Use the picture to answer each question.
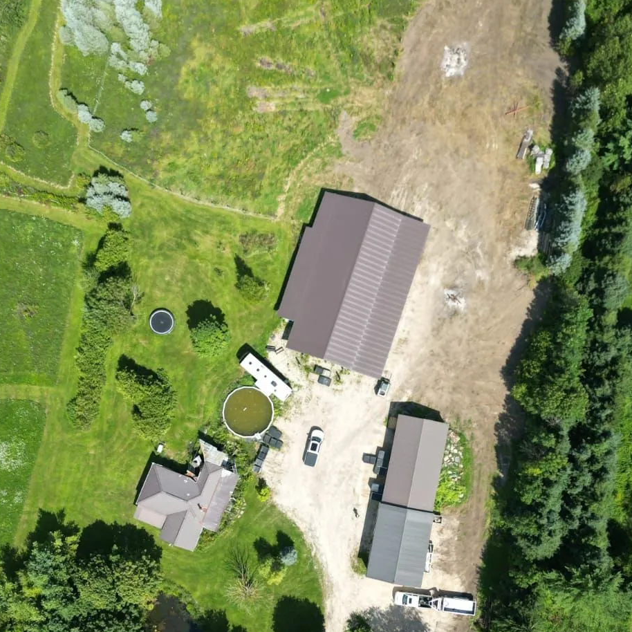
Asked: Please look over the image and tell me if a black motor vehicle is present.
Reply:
No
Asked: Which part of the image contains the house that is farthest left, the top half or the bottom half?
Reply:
bottom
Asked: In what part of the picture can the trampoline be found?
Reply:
left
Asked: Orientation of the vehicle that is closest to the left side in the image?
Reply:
diagonally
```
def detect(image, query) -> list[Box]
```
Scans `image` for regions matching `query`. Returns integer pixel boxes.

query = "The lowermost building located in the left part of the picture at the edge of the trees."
[131,460,239,551]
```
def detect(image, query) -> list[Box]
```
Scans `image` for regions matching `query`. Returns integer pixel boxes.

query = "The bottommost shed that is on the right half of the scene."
[366,503,433,588]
